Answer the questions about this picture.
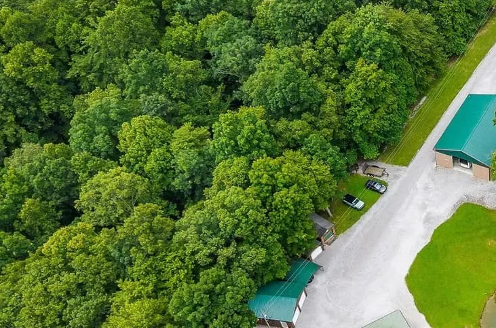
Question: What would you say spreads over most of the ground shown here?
trees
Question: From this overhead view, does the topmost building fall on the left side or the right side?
right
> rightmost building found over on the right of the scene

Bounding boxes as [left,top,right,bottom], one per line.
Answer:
[434,94,496,180]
